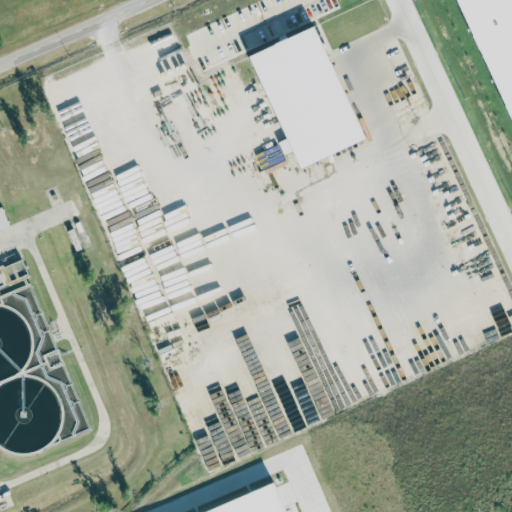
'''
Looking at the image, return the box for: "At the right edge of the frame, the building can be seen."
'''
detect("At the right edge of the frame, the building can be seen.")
[458,0,512,122]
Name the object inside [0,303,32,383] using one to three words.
storage tank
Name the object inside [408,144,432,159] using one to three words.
vehicle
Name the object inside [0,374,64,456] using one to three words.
storage tank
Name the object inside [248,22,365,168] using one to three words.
warehouse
